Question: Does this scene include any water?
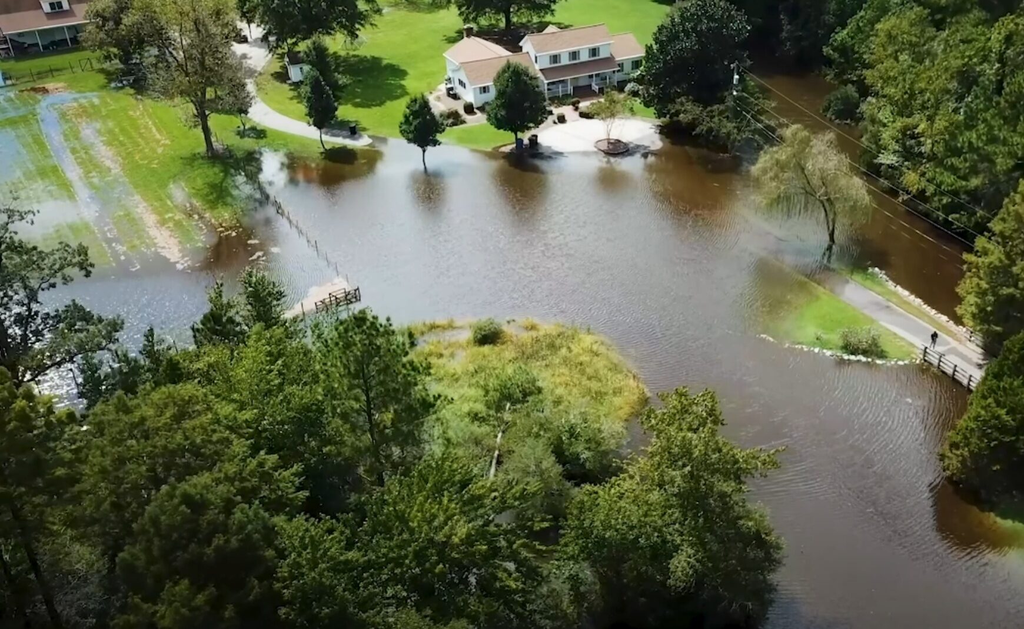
Yes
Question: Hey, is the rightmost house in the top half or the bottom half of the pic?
top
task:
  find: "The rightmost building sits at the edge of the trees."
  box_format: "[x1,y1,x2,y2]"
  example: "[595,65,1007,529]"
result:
[437,20,648,106]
